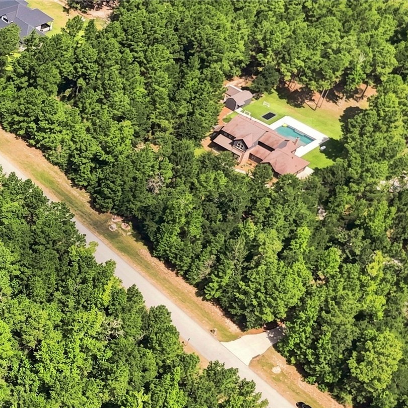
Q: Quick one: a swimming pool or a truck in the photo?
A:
swimming pool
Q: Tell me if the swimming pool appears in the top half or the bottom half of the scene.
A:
top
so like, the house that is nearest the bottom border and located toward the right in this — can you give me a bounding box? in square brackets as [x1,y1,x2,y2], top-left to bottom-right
[209,112,312,179]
